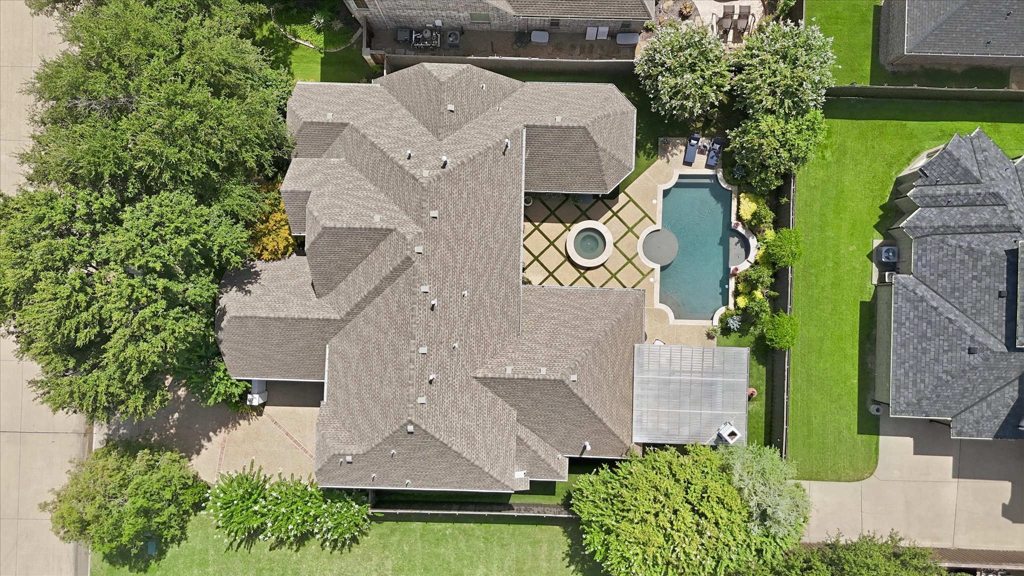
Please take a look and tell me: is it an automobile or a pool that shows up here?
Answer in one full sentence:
The image shows a pool.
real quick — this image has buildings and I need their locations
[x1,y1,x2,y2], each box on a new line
[889,0,1024,68]
[347,0,662,34]
[872,127,1024,443]
[214,62,647,494]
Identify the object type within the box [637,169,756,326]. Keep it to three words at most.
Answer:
swimming pool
